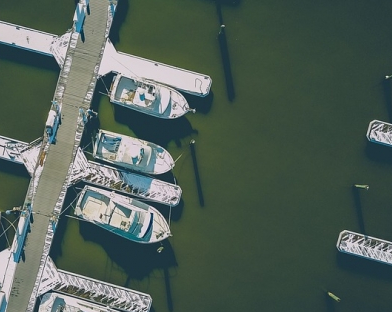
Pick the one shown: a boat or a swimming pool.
boat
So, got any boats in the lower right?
No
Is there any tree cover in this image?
No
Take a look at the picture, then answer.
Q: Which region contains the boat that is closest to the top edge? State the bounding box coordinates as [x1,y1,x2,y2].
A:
[109,73,196,120]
